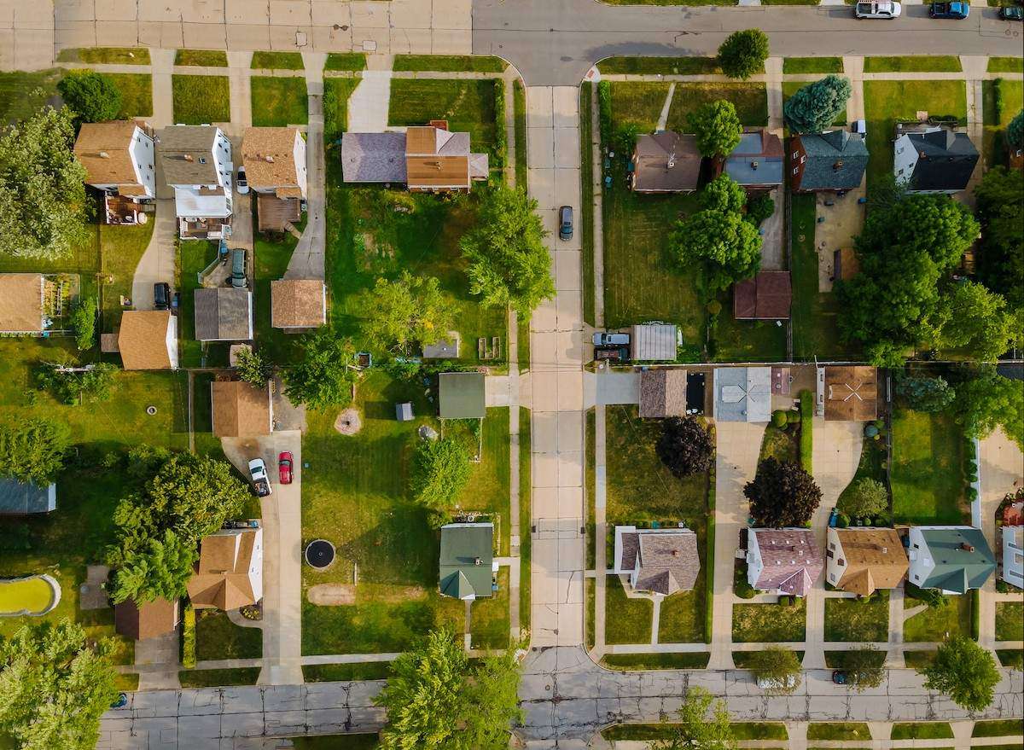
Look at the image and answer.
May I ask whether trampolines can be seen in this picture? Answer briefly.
Yes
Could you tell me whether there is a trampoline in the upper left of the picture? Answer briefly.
No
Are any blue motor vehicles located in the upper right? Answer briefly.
Yes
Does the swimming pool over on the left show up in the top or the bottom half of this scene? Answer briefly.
bottom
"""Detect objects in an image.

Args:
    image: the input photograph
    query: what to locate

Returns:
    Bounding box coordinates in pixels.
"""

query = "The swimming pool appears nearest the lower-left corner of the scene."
[0,573,62,616]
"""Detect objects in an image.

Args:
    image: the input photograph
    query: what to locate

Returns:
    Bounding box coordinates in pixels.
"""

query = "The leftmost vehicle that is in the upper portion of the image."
[153,282,171,311]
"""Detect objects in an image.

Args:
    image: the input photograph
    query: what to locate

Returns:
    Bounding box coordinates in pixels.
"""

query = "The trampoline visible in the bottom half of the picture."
[306,540,335,568]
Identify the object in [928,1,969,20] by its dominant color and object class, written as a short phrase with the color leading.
blue vehicle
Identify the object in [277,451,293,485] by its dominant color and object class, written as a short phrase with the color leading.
red car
